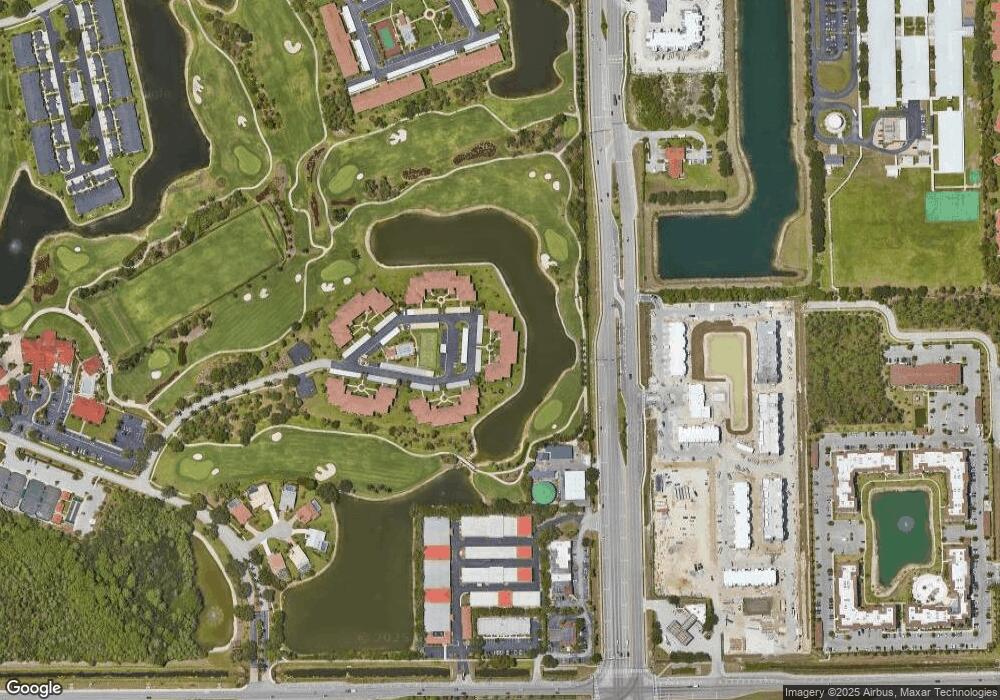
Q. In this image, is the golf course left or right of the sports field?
to its left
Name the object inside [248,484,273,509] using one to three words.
house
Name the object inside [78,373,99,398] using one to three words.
swimming pool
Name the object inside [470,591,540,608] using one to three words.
building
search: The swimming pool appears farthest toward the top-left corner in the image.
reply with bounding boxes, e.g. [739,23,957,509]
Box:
[69,72,84,103]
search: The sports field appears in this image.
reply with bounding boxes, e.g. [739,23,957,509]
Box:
[830,174,981,287]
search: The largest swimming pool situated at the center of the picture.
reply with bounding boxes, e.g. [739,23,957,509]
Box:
[394,342,415,359]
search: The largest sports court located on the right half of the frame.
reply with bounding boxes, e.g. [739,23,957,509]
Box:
[925,191,979,222]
